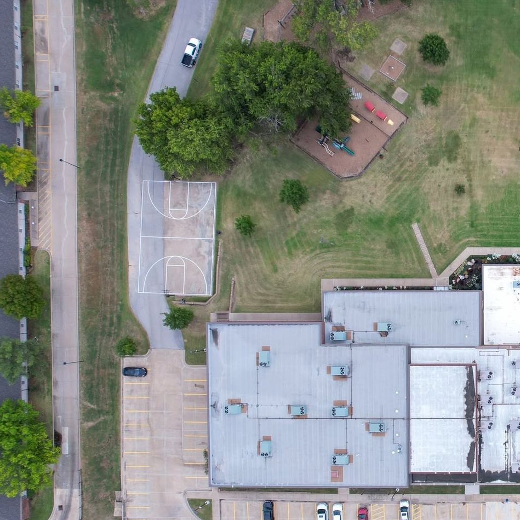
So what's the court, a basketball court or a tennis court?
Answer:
basketball court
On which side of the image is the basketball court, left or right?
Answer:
left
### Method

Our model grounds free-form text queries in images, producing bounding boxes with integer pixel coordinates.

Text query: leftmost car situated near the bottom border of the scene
[262,500,274,520]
